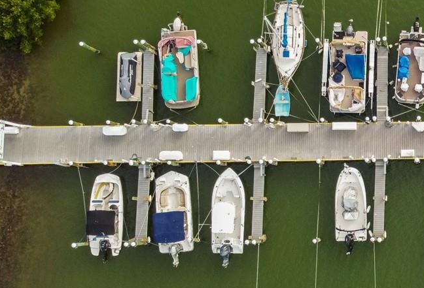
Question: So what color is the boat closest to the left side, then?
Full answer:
The boat closest to the left side is white.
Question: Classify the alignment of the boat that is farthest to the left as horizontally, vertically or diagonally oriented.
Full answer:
The boat that is farthest to the left is oriented vertically.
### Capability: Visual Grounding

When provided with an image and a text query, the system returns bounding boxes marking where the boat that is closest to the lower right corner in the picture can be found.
[335,162,371,255]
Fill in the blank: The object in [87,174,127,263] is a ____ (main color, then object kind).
white boat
